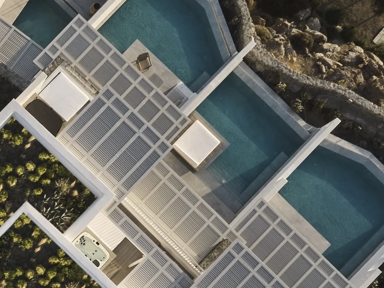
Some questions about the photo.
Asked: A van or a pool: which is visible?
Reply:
pool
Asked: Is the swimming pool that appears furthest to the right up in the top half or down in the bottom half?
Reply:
bottom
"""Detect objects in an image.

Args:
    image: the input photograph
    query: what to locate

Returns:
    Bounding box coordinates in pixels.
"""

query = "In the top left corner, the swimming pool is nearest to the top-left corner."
[12,0,78,49]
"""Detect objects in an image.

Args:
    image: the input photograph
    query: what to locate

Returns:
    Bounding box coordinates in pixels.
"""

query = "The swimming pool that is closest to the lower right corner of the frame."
[274,133,384,282]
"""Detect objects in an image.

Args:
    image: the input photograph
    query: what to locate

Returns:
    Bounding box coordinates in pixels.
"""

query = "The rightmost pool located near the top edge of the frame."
[102,0,234,92]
